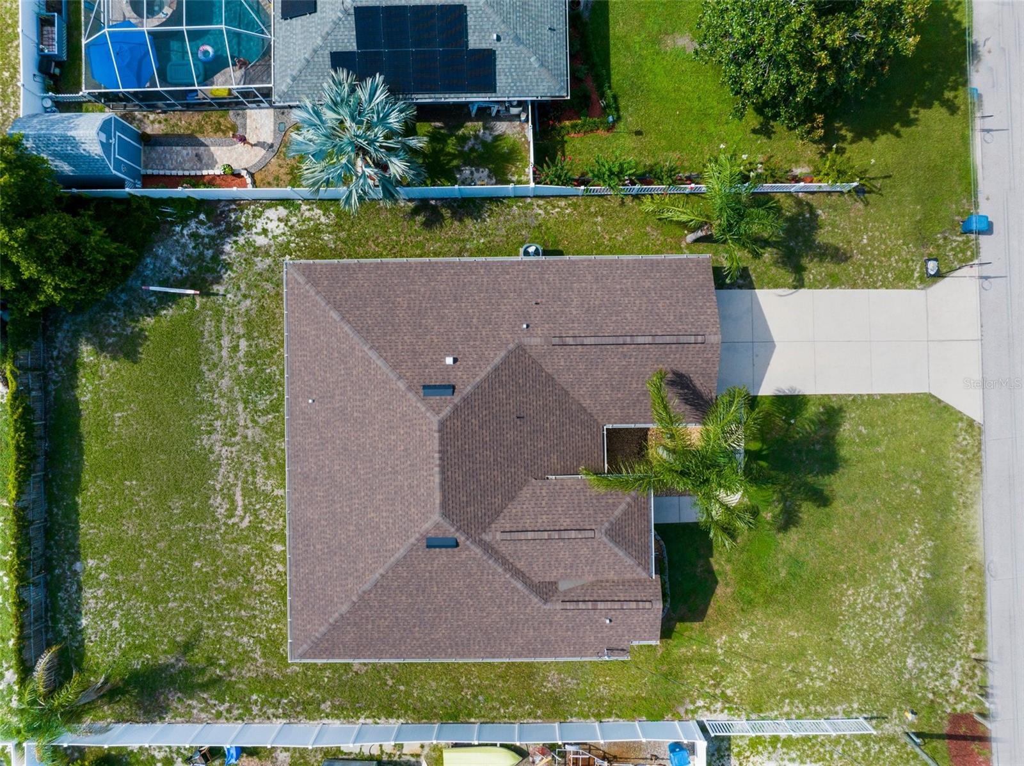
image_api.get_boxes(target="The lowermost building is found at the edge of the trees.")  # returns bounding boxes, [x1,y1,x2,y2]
[282,253,722,664]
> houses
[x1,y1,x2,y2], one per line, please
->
[269,0,571,108]
[282,253,722,664]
